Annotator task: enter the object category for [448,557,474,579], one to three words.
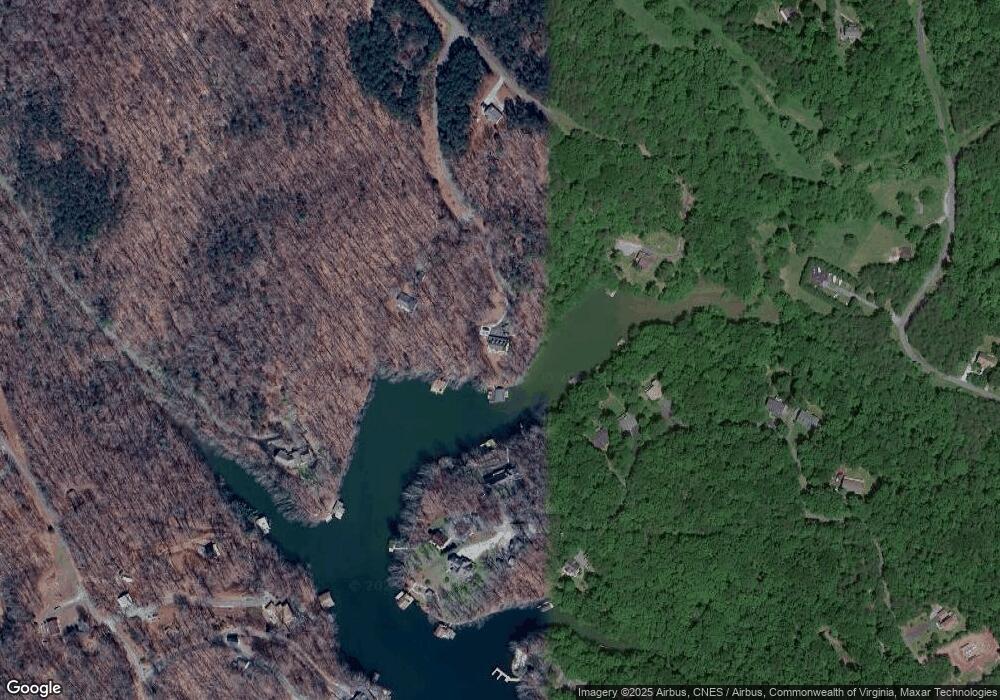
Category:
house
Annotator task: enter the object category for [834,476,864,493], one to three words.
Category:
house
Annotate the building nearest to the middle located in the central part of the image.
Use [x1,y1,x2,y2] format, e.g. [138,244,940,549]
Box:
[488,337,509,355]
